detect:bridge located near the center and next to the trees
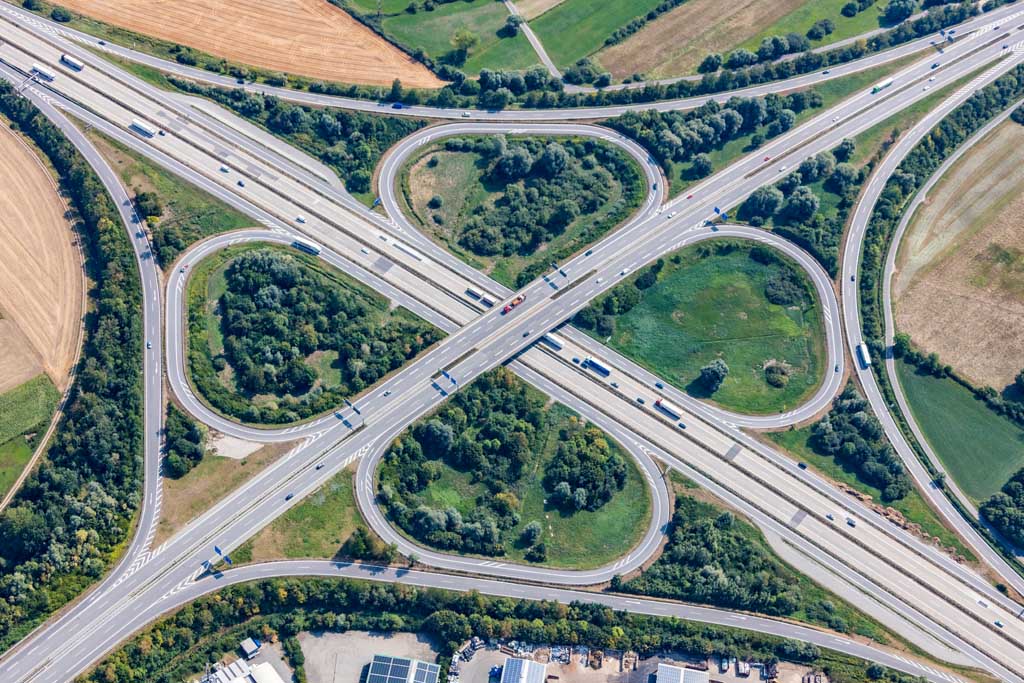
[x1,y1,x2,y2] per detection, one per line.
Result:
[453,283,573,364]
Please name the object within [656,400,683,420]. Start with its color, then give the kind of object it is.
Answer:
white vehicle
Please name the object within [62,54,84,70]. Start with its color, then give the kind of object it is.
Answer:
white vehicle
